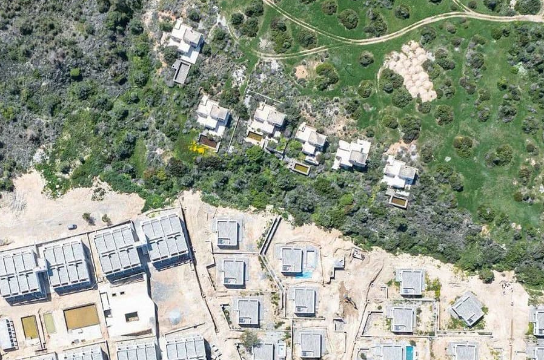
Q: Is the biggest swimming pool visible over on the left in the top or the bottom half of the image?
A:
bottom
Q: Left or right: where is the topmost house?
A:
left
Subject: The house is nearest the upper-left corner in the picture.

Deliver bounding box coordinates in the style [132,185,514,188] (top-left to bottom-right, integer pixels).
[169,25,201,68]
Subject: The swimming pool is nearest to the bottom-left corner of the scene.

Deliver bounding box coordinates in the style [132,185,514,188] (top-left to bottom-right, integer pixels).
[20,316,40,341]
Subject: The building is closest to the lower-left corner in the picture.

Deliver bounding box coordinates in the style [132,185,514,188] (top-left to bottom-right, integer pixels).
[0,319,18,350]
